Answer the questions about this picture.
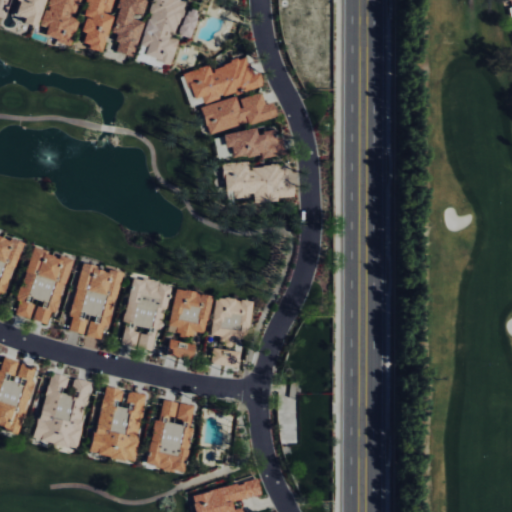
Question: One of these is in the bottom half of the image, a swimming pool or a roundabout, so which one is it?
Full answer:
The one visible in the bottom half of the image is a swimming pool.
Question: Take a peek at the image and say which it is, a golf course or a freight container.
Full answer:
I can see a golf course in this picture.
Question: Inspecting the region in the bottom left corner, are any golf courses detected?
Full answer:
Yes, looking in the bottom left corner, one can make out a golf course.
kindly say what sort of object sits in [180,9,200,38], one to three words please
building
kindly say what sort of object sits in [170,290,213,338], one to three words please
house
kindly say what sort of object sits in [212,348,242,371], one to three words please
house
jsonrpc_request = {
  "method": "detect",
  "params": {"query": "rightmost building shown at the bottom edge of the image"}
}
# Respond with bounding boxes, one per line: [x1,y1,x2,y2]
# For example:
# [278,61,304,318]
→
[194,480,262,512]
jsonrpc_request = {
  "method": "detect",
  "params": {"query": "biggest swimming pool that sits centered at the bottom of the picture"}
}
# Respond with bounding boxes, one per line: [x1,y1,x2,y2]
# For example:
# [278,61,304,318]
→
[200,408,234,448]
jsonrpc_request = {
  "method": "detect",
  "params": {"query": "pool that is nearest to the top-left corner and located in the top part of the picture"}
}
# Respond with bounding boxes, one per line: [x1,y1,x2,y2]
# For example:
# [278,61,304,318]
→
[0,10,33,35]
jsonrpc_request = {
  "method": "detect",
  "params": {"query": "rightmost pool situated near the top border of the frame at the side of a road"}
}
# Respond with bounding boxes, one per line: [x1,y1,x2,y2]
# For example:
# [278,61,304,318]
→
[194,0,248,52]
